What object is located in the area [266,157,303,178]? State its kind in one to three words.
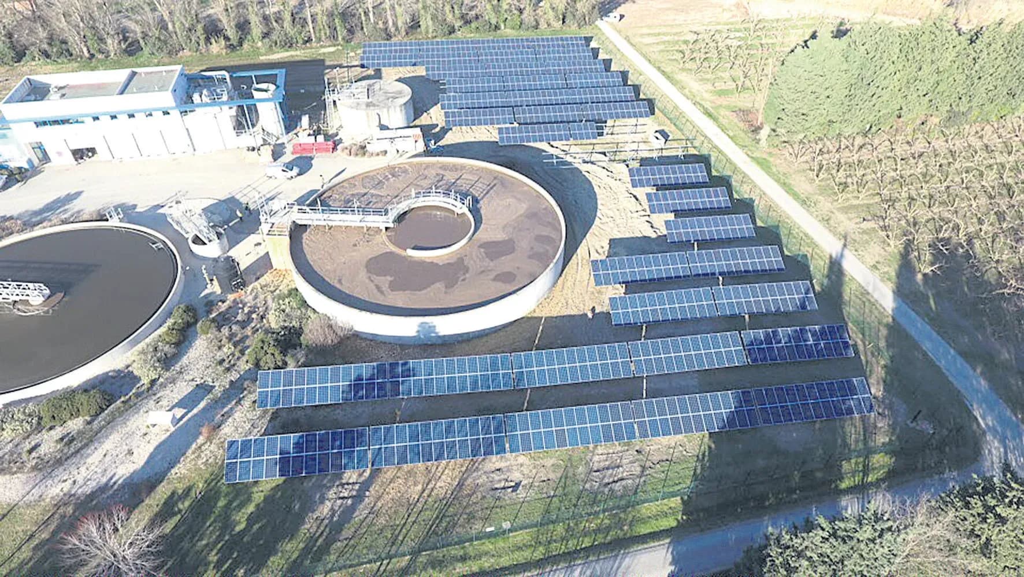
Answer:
vehicle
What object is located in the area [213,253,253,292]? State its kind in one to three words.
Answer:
storage tank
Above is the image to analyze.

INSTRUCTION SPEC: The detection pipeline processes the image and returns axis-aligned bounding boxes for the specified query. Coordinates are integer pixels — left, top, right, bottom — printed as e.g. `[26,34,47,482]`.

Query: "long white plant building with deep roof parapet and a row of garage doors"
[0,66,291,171]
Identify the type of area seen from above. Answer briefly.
industrial area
